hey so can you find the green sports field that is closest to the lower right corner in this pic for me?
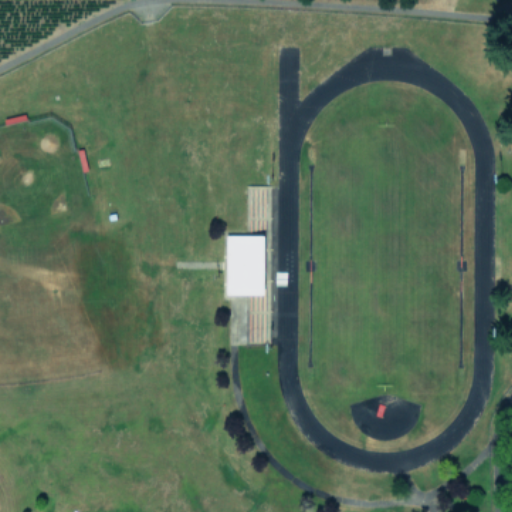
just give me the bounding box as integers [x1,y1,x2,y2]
[298,80,475,452]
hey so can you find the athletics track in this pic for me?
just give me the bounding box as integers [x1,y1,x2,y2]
[278,48,496,472]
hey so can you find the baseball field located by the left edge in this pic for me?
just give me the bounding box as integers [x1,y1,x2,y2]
[0,119,117,384]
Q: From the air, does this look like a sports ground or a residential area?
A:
sports ground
